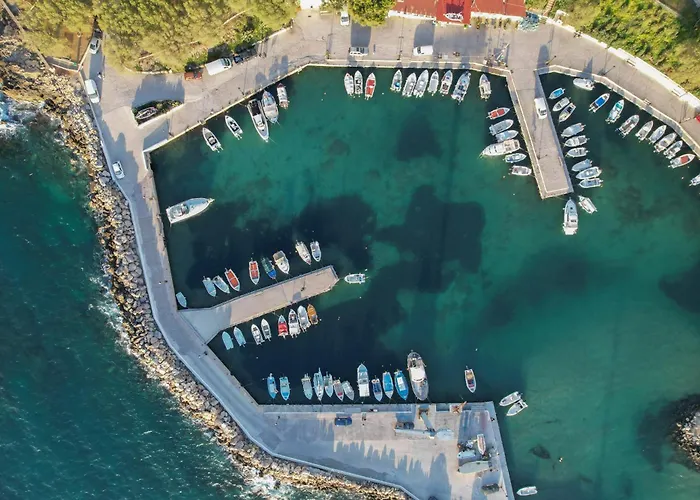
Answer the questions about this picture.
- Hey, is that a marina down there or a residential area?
marina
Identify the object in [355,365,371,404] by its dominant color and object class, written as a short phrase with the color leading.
white boat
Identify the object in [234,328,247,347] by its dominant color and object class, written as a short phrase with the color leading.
blue boat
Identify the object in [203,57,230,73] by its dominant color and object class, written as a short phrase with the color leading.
white vehicle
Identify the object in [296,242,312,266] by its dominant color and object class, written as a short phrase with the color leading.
white boat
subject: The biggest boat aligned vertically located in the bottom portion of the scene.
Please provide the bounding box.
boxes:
[405,351,430,404]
